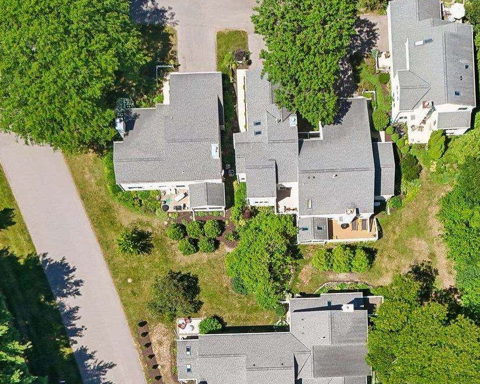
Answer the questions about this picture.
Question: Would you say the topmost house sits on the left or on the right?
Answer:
right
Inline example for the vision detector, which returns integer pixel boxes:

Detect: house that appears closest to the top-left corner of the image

[114,71,225,210]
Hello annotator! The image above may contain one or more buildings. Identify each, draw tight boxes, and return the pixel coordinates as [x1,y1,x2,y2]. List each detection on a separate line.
[233,70,395,245]
[386,0,476,133]
[176,292,369,384]
[114,71,225,210]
